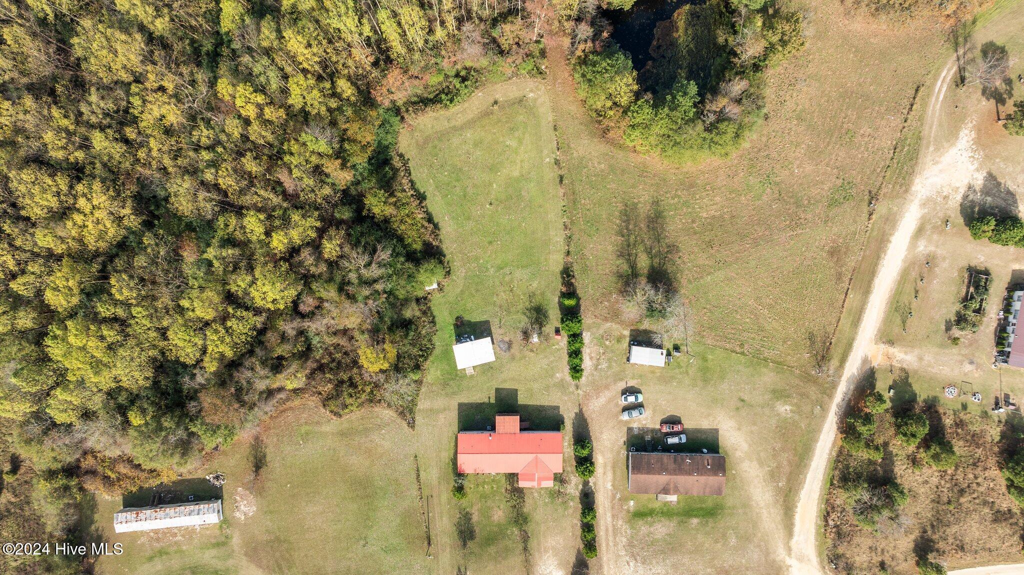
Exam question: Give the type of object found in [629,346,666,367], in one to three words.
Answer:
shed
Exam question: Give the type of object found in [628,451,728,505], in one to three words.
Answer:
house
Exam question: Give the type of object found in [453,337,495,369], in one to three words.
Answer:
shed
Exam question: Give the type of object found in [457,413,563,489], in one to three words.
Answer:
house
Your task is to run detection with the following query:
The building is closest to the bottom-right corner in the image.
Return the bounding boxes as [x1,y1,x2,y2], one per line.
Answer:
[994,298,1024,371]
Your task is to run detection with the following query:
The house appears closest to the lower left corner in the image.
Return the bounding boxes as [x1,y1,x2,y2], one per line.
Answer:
[114,500,224,533]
